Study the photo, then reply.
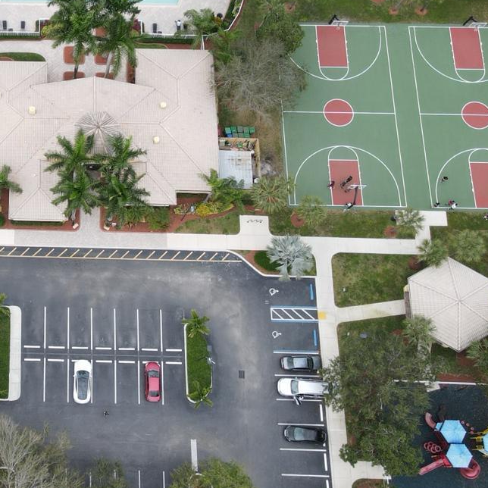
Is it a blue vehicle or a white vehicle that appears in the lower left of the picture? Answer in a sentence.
Visible in the lower left of the picture is a white vehicle.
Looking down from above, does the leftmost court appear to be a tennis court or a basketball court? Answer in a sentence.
It turns out the leftmost court is a basketball court.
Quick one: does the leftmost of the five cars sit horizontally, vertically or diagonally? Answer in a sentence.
From this overhead view, the leftmost of the five cars appears to run vertically.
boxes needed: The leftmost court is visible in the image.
[270,20,419,212]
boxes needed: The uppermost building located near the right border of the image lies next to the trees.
[394,257,488,353]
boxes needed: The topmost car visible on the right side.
[278,353,321,373]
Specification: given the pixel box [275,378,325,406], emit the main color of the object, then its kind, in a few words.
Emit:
white car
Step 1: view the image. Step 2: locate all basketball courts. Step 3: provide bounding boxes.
[270,20,419,212]
[396,21,488,214]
